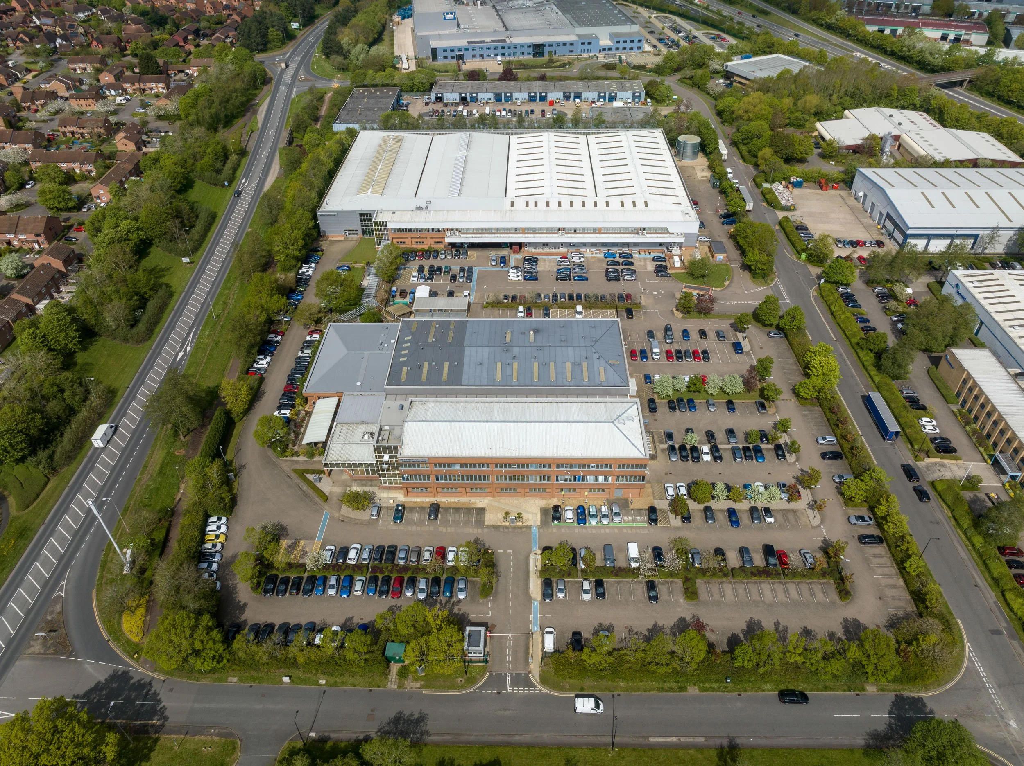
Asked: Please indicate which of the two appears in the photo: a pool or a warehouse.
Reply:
warehouse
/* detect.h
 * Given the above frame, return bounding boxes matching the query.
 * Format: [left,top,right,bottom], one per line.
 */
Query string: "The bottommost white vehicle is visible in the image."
[572,696,605,713]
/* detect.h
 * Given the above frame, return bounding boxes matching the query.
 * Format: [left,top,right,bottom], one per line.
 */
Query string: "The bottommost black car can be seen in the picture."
[778,689,808,705]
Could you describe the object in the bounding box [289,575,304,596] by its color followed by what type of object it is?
black car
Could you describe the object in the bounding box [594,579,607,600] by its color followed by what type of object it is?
black vehicle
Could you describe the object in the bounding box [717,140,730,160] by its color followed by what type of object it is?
white vehicle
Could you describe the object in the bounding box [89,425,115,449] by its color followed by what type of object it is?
white truck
